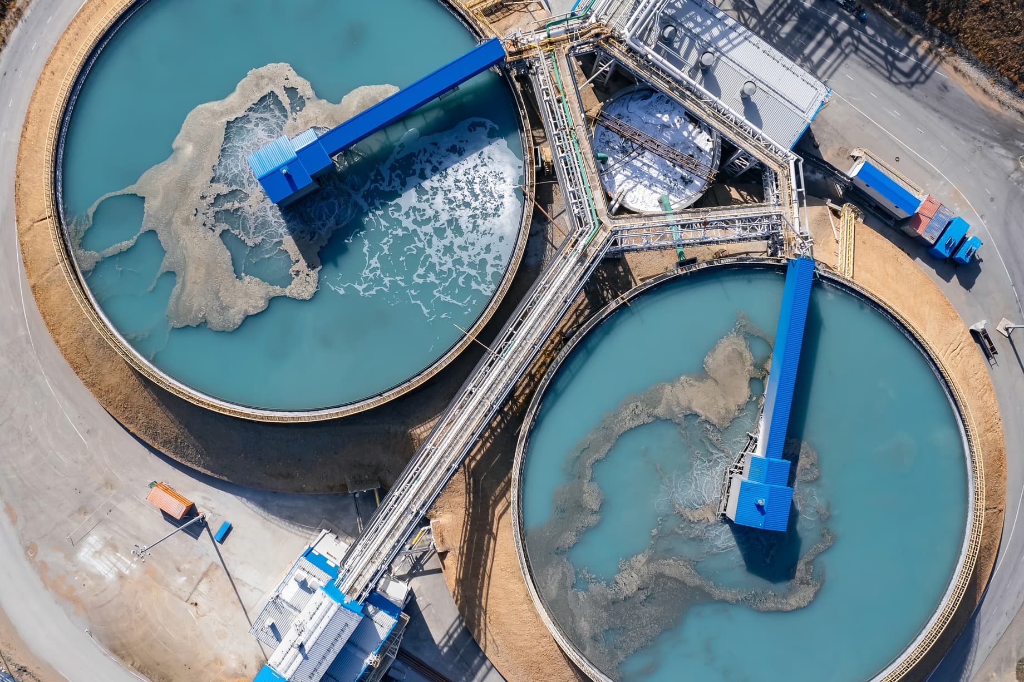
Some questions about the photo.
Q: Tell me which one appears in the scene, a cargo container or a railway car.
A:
cargo container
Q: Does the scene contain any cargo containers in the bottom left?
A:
Yes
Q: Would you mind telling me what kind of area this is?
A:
industrial area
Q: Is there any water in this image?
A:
Yes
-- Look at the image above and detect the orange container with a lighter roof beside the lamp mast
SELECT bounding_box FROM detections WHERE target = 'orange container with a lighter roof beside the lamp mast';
[146,483,194,520]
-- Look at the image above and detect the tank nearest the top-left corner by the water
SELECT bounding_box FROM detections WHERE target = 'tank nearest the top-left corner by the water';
[43,0,536,424]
